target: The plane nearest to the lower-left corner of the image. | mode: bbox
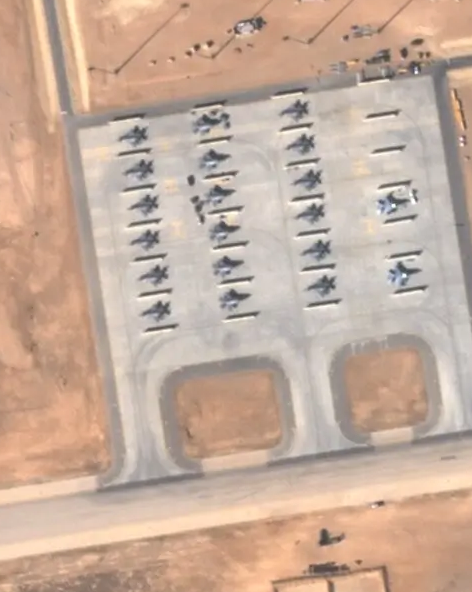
[141,303,167,322]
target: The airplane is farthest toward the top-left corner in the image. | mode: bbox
[119,128,144,146]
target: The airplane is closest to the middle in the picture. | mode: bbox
[221,292,247,310]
